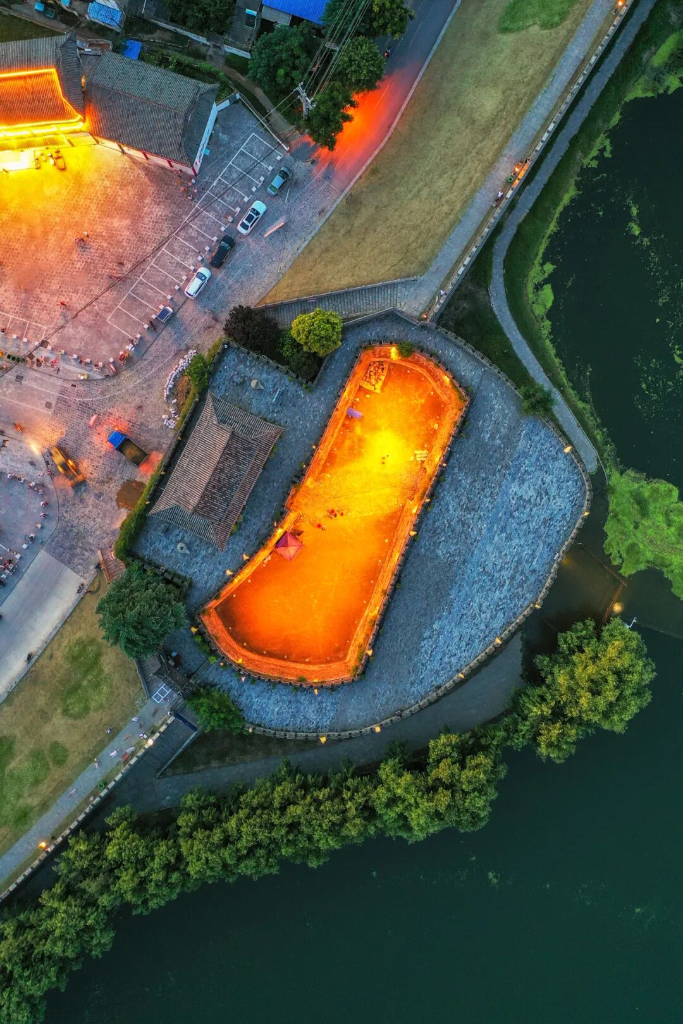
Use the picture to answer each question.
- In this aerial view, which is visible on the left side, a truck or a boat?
truck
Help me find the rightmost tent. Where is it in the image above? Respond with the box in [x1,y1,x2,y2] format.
[275,530,302,561]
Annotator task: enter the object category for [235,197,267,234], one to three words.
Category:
car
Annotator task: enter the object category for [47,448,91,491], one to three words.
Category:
work vehicle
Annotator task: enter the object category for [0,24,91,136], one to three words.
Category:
building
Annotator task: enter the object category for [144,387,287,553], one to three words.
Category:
building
